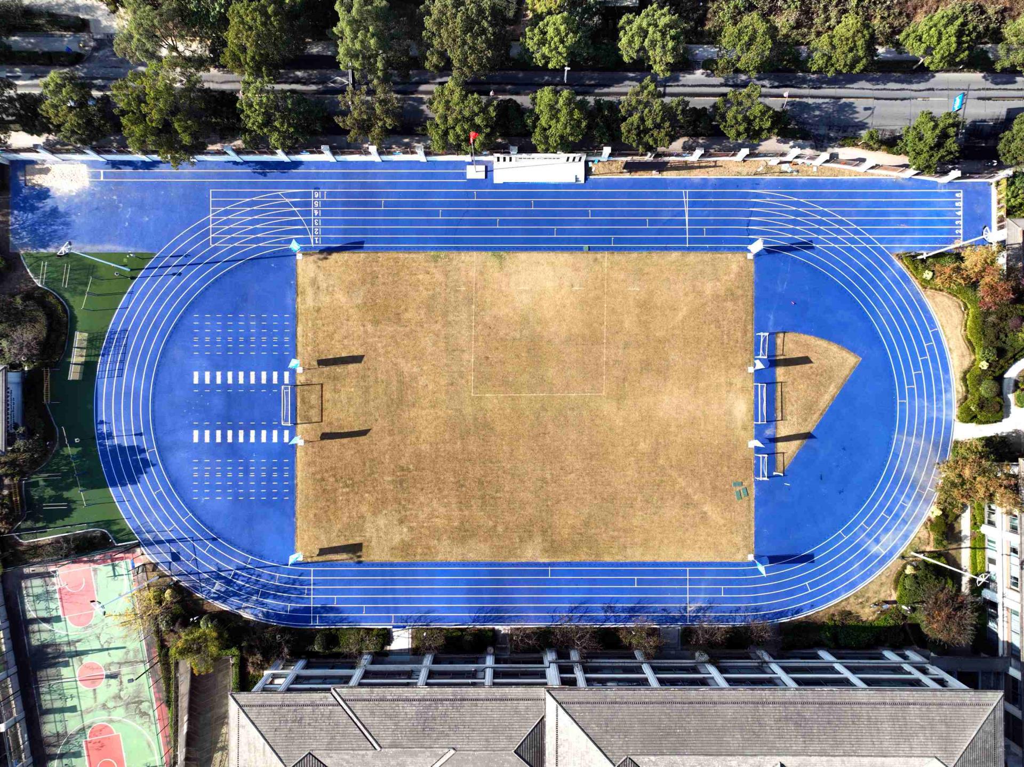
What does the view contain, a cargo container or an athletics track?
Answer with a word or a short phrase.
athletics track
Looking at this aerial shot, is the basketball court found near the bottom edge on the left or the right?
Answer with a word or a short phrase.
left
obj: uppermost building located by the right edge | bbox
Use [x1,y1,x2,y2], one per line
[995,220,1024,248]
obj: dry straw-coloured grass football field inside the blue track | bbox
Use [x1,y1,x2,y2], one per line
[296,251,755,562]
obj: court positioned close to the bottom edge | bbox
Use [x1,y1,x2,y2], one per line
[0,544,182,767]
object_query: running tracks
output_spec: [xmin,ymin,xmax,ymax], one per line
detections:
[9,160,999,630]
